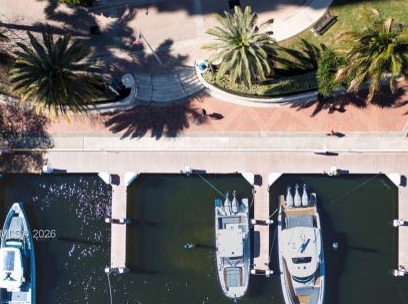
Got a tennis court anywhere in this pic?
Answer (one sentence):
No, there is no tennis court in the image.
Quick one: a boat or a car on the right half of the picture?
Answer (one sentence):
The feature located on the right half of the picture is a boat.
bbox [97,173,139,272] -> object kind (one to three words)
pier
